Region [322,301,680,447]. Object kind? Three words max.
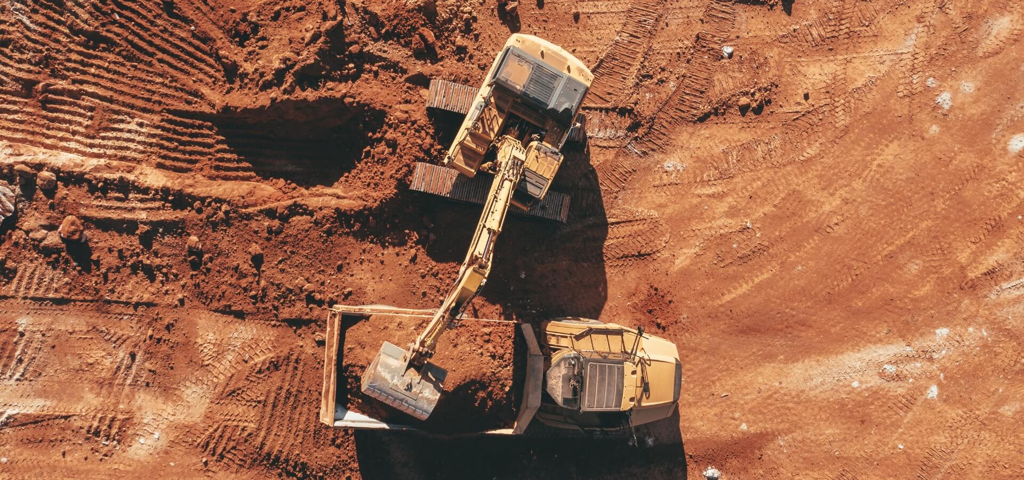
truck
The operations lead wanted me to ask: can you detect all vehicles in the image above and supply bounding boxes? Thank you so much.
[322,301,680,447]
[365,36,590,420]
